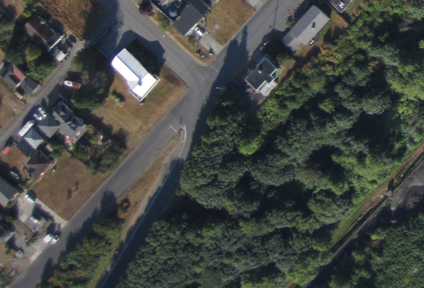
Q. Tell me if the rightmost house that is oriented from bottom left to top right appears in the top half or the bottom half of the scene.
top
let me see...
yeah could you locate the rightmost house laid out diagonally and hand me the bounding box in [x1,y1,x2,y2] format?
[282,6,330,55]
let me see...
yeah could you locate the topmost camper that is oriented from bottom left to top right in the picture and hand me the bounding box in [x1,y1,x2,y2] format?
[18,117,39,136]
